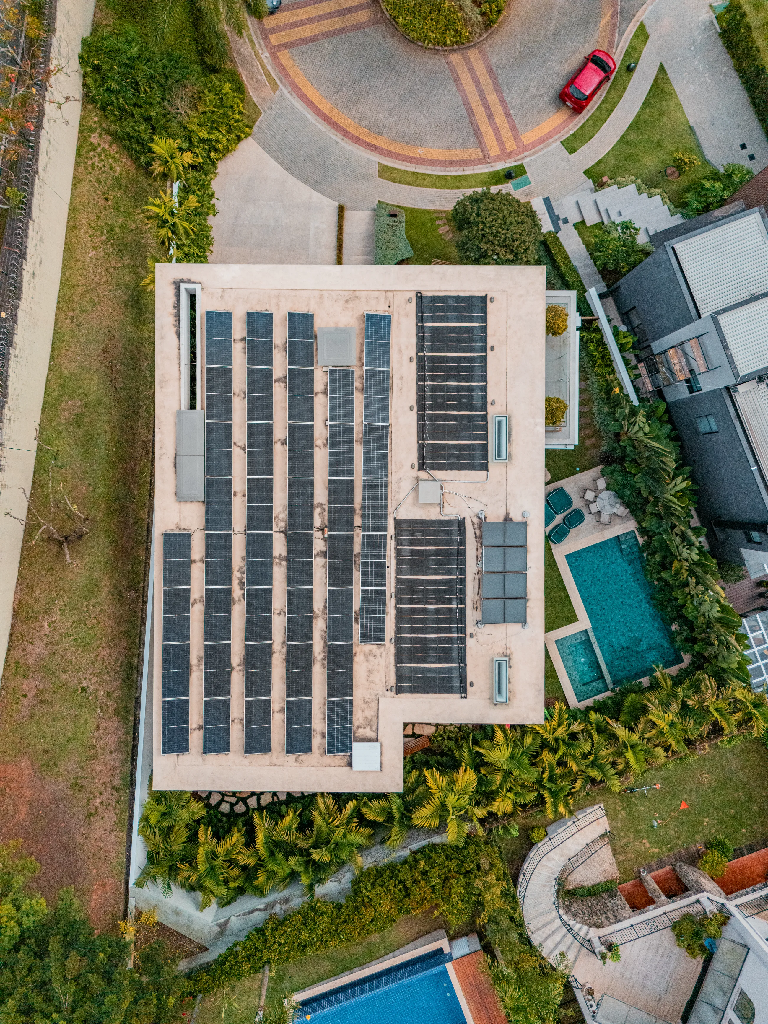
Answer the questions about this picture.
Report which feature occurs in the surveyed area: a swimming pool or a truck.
swimming pool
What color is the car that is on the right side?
red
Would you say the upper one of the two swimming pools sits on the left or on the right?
right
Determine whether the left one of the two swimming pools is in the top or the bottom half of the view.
bottom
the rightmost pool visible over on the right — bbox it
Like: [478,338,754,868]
[545,518,686,708]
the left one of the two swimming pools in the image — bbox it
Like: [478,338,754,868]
[284,937,474,1024]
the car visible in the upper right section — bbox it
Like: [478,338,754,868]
[561,46,614,113]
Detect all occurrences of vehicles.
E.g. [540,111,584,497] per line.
[257,0,286,16]
[561,46,614,113]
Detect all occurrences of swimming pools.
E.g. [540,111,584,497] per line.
[284,937,474,1024]
[545,518,686,708]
